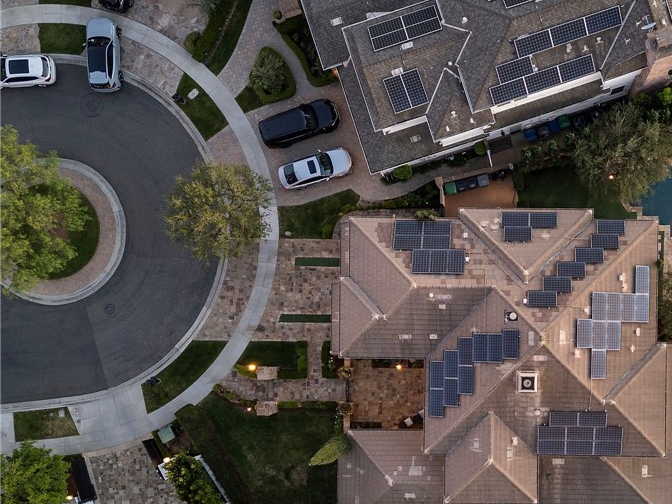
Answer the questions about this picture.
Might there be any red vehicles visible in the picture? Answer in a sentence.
No, there is no red vehicle in the image.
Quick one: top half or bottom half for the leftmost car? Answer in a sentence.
You can find the leftmost car in the top half.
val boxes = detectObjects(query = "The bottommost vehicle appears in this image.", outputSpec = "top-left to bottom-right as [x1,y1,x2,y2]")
[275,145,354,189]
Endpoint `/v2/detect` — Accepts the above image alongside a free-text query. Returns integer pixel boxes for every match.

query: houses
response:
[330,208,672,504]
[302,0,672,176]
